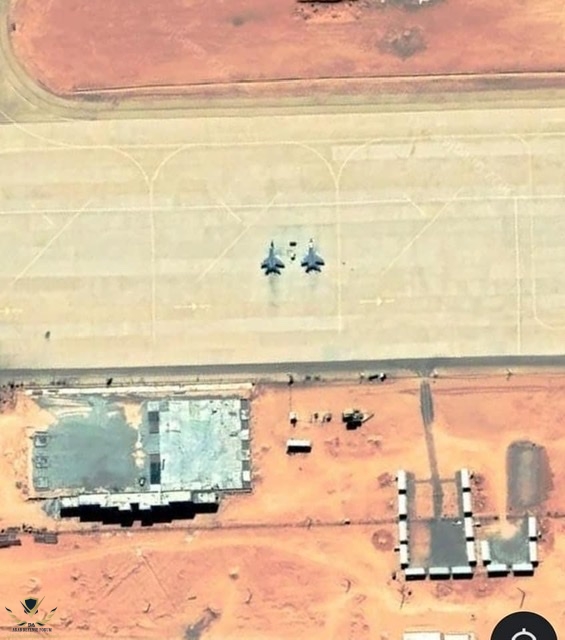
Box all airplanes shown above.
[301,239,324,273]
[260,241,284,275]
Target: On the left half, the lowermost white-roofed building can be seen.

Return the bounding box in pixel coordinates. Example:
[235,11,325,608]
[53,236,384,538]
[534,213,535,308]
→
[59,492,218,511]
